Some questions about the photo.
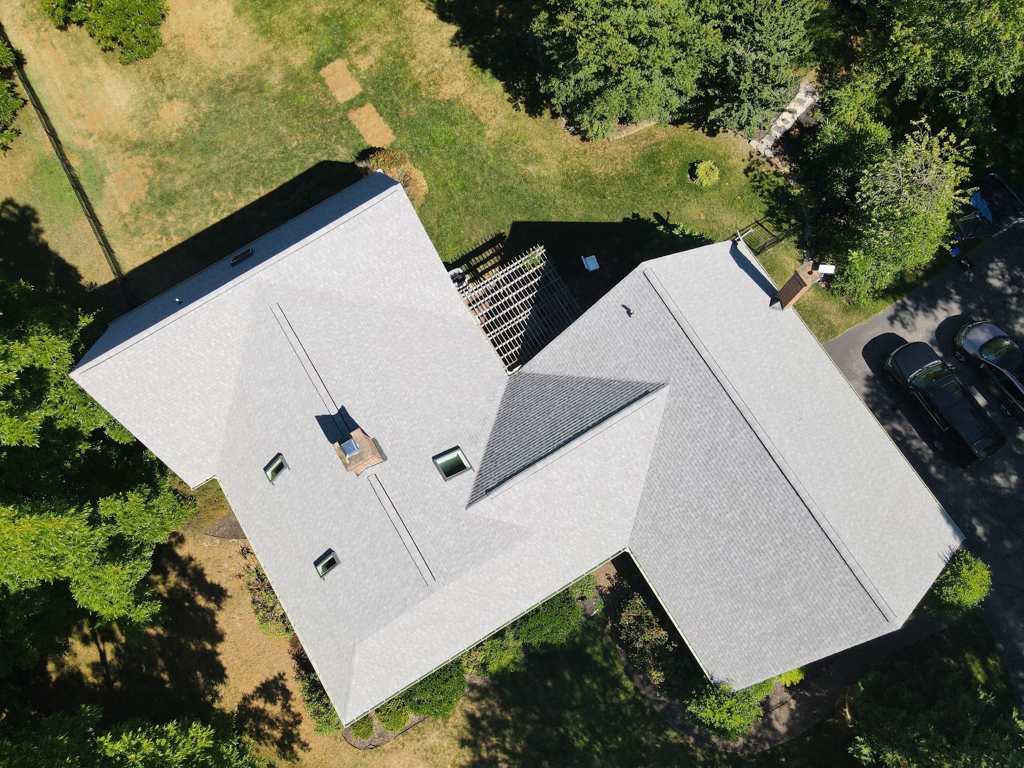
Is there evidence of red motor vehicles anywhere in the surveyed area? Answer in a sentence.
No, the frame has no red motor vehicle in it.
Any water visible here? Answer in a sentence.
No, there is no water in the image.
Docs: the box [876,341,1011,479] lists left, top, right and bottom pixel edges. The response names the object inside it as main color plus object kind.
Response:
black car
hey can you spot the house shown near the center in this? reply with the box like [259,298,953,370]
[69,167,968,732]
